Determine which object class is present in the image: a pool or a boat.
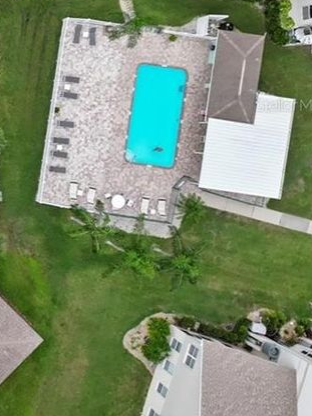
pool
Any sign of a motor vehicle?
No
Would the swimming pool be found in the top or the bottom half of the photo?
top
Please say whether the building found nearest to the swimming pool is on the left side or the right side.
right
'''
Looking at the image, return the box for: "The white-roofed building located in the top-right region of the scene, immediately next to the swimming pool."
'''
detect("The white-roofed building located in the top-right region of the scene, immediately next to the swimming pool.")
[177,28,297,198]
